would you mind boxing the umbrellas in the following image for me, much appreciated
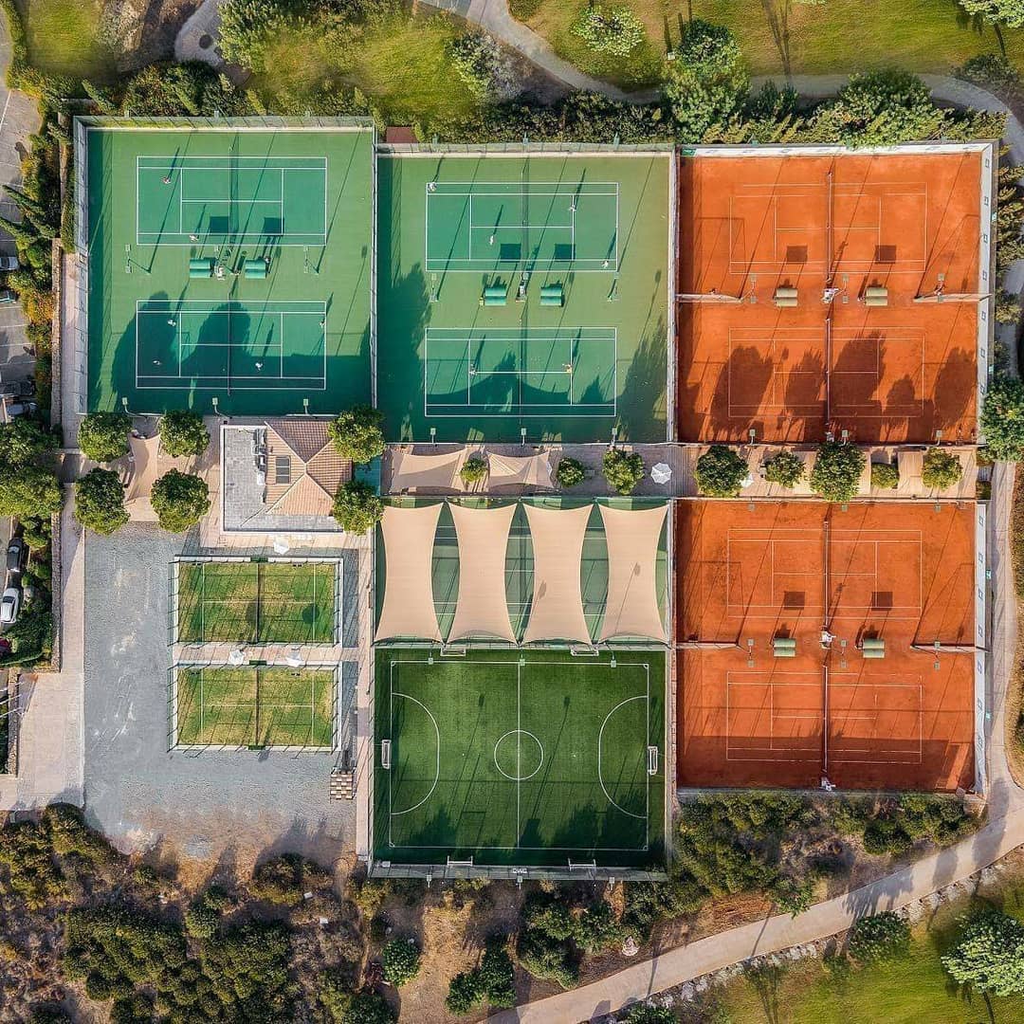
[287,651,303,666]
[650,462,671,484]
[275,537,290,553]
[230,648,245,663]
[741,474,756,486]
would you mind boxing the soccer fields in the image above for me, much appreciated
[372,650,665,867]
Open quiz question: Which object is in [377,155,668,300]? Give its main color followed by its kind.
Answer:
green tennis court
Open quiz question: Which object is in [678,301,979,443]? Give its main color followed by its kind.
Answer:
orange tennis court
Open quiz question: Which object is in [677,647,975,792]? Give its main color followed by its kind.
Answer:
orange tennis court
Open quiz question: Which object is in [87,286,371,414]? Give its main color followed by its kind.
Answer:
green tennis court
